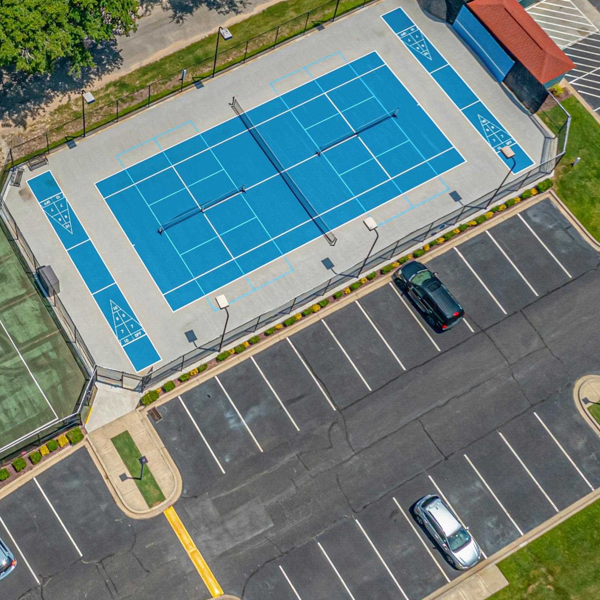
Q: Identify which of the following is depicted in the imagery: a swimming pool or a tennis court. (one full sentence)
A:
There is a tennis court in the scene.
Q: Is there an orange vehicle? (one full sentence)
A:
No, no orange vehicle can be seen from above.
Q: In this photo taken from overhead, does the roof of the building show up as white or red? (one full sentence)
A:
The color of the roof of the building is red.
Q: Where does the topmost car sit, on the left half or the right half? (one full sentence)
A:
The topmost car is on the right side of the image.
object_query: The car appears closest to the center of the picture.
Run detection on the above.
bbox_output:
[394,263,463,334]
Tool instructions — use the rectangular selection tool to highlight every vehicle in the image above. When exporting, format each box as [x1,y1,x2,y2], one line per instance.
[0,541,16,584]
[414,493,479,572]
[394,263,463,334]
